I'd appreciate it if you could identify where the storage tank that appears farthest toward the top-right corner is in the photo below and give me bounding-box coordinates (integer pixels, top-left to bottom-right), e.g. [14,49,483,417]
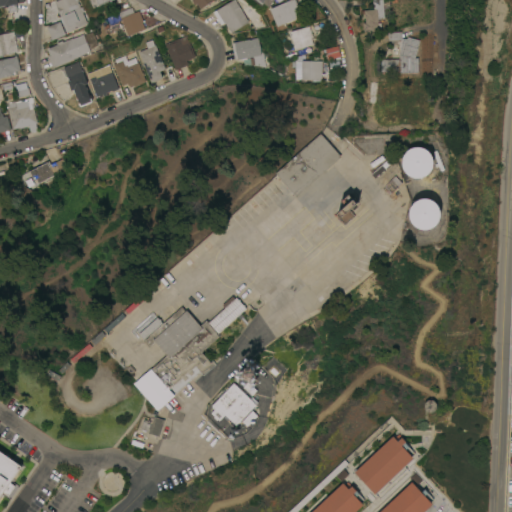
[402,146,434,180]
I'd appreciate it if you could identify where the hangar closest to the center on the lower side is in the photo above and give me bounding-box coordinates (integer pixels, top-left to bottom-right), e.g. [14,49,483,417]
[210,296,246,332]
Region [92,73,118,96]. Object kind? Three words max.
house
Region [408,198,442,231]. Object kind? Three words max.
storage tank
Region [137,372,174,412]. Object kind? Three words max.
building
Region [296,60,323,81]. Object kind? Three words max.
house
